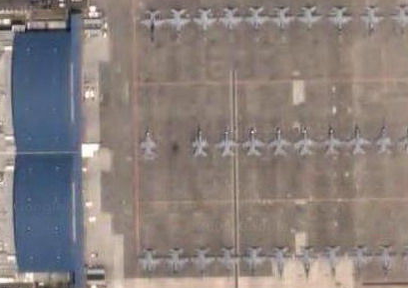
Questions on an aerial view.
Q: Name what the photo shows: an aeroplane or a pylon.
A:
aeroplane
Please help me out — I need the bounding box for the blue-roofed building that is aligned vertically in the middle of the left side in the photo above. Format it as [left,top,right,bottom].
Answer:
[11,13,87,286]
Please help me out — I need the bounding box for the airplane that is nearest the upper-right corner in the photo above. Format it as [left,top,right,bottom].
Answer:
[391,6,408,38]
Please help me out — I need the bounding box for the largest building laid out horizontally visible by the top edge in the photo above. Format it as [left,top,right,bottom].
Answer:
[25,14,69,29]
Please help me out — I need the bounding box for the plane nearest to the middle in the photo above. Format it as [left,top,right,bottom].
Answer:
[191,125,207,157]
